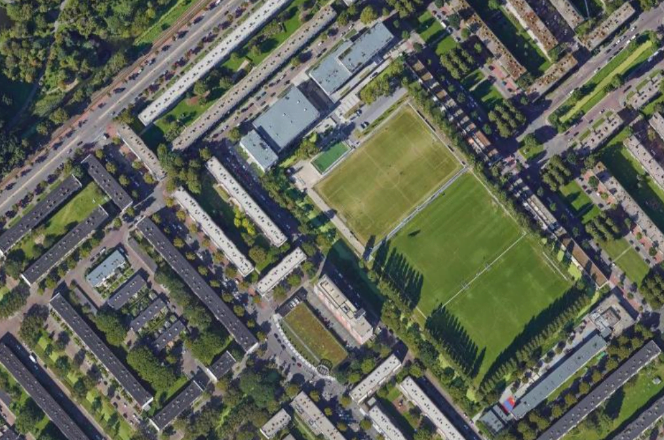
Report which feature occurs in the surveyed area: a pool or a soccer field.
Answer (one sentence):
Visible in the photo is a soccer field.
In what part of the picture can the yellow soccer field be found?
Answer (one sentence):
The yellow soccer field is in the center part of the image.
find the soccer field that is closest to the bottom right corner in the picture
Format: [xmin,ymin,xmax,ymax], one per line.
[424,232,586,387]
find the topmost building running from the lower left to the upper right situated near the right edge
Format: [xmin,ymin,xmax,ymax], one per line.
[581,1,635,52]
